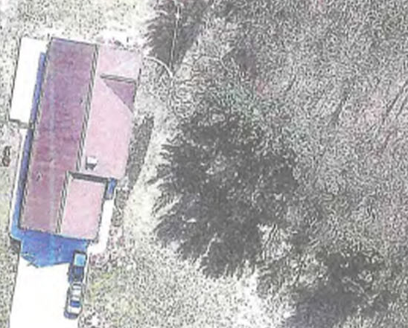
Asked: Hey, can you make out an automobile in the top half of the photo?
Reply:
No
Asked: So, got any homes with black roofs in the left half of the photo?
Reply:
No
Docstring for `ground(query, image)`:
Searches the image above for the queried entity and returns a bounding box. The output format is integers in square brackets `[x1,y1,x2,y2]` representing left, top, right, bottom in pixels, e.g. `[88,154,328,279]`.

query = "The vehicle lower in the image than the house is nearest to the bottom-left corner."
[66,281,83,319]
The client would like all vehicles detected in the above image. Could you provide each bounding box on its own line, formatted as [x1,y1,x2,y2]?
[66,281,83,319]
[69,251,86,283]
